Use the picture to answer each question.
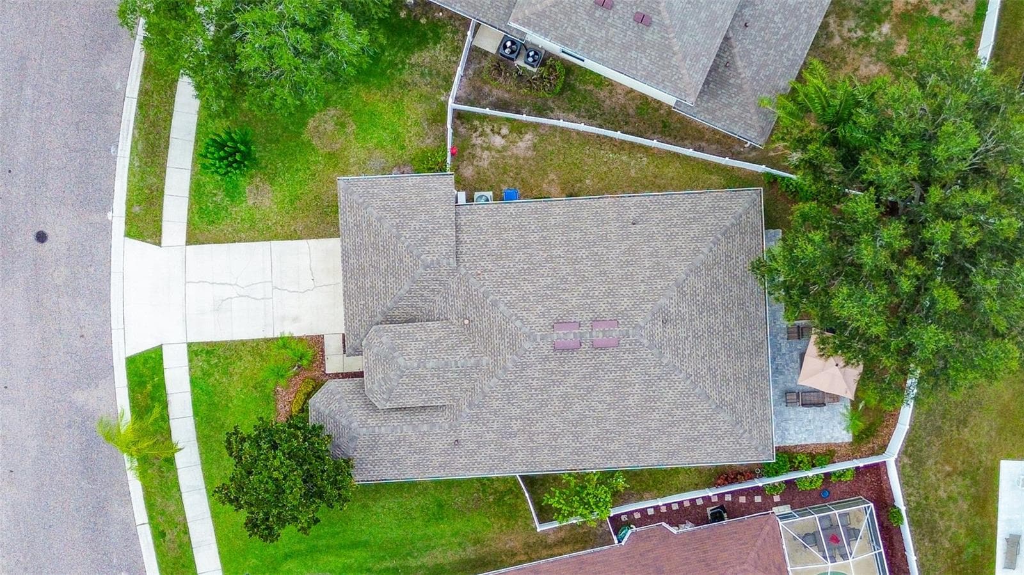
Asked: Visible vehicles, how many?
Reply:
0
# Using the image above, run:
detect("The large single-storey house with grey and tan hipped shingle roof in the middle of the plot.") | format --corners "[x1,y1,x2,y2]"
[307,173,775,483]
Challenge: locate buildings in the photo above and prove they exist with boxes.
[484,510,791,575]
[307,173,775,483]
[428,0,827,153]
